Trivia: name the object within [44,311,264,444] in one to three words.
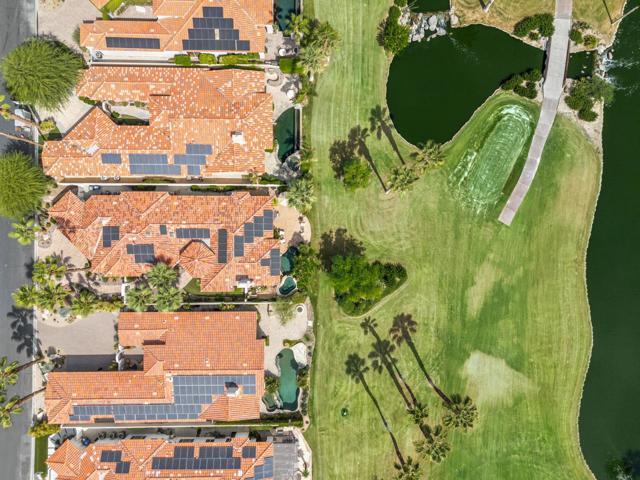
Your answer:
house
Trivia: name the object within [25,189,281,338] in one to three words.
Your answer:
house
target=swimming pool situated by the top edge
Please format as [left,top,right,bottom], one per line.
[274,0,298,32]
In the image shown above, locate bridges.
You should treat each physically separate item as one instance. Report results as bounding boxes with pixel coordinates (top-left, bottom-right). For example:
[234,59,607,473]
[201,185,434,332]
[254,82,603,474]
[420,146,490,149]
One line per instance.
[544,18,574,100]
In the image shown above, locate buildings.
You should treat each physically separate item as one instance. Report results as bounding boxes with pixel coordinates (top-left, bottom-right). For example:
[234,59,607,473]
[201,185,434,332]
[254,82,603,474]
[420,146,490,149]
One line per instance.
[75,0,275,56]
[25,189,281,338]
[44,311,264,444]
[42,433,274,480]
[12,62,274,176]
